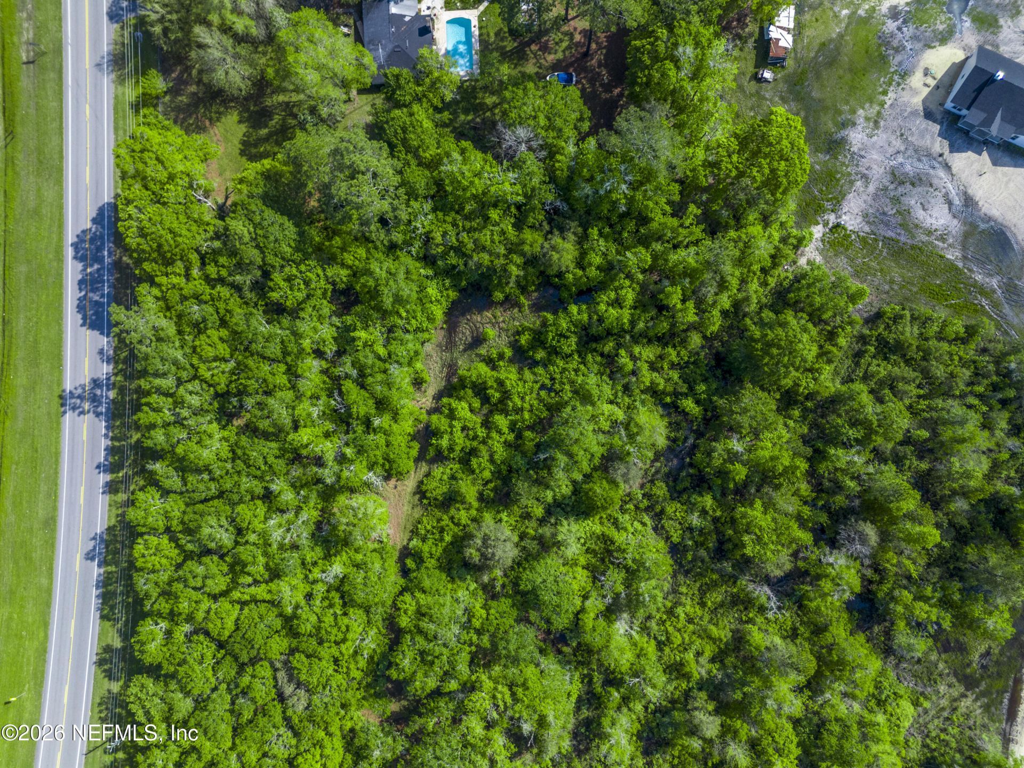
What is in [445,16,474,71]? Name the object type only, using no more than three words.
swimming pool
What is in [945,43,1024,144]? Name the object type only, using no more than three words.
house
